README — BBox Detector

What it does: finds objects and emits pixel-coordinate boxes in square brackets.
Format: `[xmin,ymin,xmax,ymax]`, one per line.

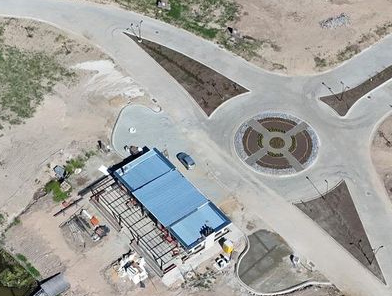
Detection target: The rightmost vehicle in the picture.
[176,153,196,170]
